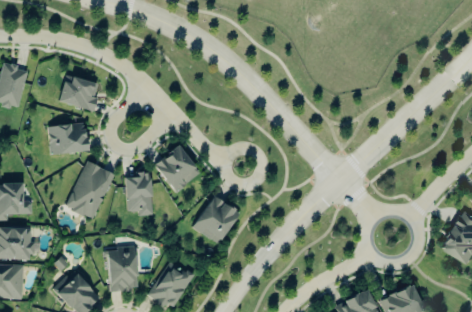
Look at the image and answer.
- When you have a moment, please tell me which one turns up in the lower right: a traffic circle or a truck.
traffic circle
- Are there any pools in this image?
Yes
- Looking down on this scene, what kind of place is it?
residential area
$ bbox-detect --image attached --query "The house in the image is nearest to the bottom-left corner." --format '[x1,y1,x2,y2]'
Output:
[0,264,23,299]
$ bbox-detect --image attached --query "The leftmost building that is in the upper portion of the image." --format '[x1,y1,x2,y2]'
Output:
[0,62,28,110]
